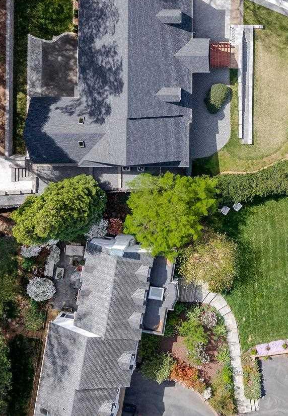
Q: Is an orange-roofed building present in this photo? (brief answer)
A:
No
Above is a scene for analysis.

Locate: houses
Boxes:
[23,0,209,169]
[32,232,181,416]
